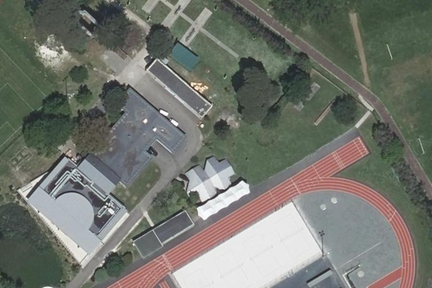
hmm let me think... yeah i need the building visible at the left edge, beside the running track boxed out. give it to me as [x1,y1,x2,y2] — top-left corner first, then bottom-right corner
[16,154,130,265]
